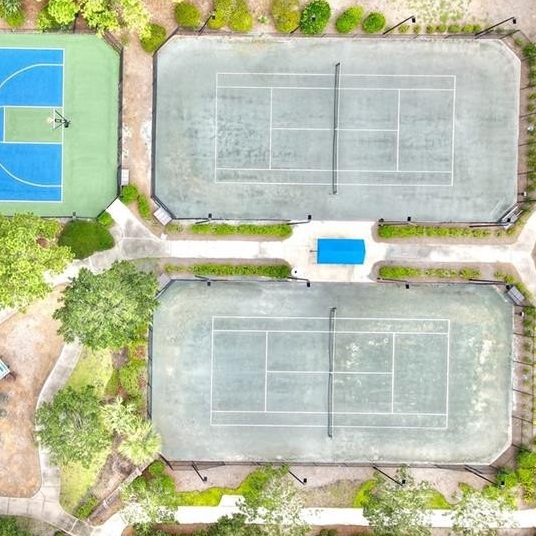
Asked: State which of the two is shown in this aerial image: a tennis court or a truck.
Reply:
tennis court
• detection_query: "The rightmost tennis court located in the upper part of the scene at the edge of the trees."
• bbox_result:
[152,35,521,221]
